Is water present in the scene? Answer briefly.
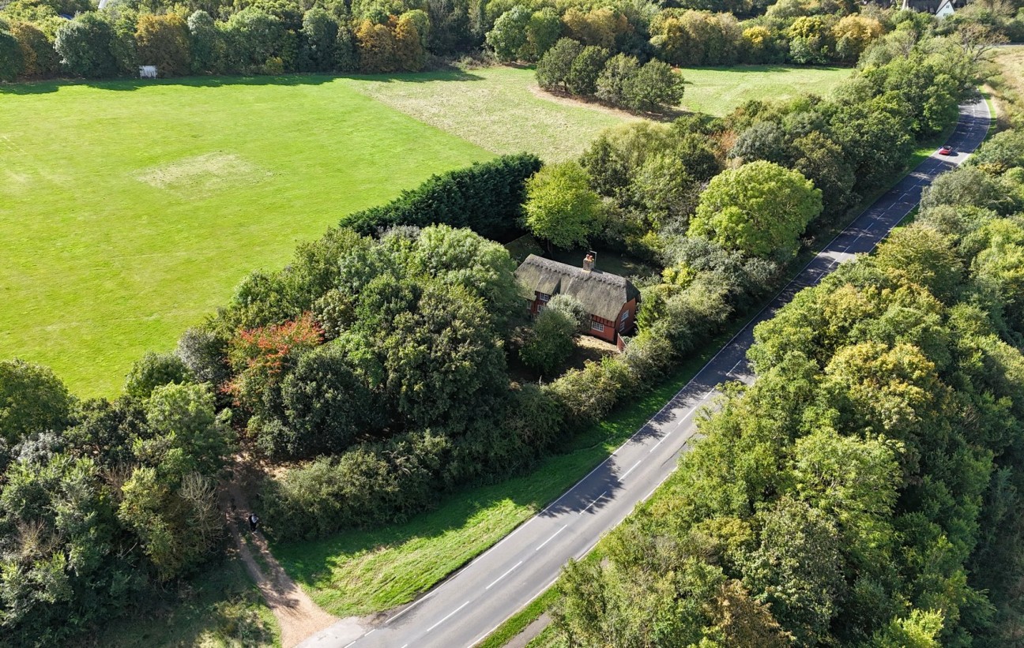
No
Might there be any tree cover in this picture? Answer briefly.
Yes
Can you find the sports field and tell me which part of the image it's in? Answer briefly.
left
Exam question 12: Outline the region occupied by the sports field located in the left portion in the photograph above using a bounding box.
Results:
[0,76,498,442]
